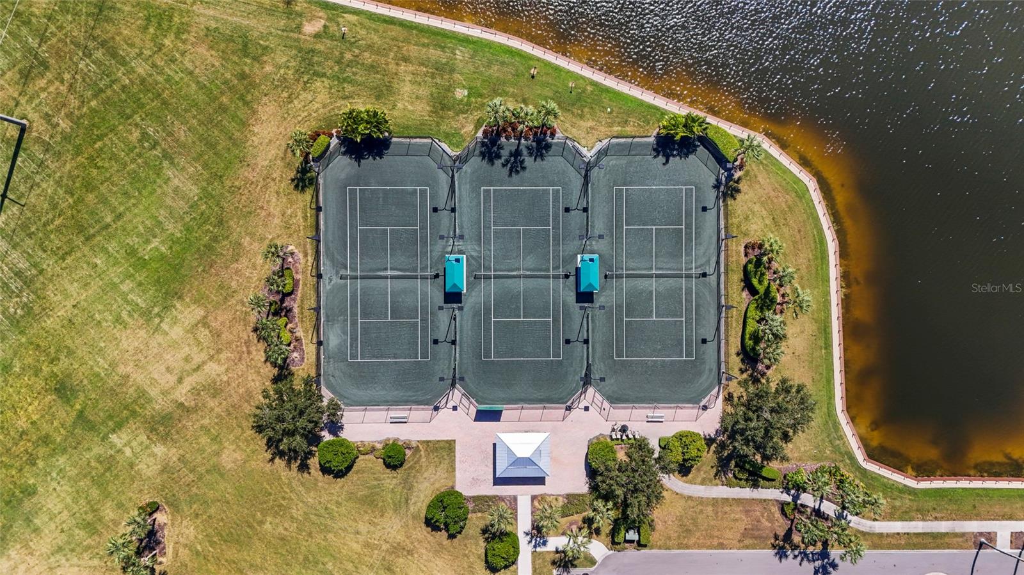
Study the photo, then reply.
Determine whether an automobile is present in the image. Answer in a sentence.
No, there isn't any automobile down there.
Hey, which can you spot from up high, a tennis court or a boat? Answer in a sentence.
This aerial view contains a tennis court.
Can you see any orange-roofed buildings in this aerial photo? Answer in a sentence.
No, there isn't any orange-roofed building down there.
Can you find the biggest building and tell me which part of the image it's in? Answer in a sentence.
The biggest building is in the bottom part of the image.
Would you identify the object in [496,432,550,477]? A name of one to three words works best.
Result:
building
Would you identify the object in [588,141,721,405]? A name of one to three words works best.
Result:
tennis court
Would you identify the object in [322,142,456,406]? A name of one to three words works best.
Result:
tennis court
